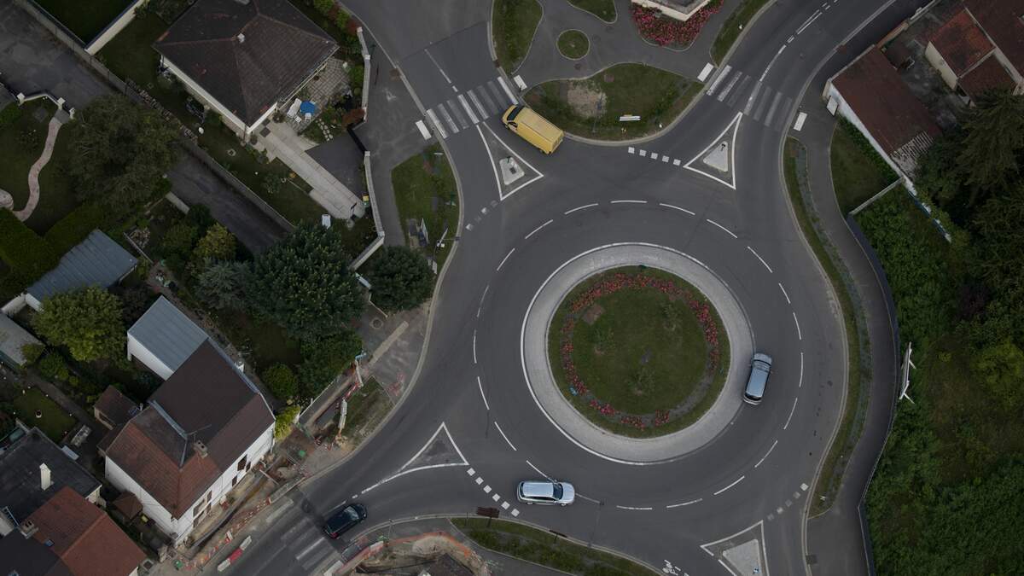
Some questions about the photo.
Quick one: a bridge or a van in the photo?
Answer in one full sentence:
I can see a van in this picture.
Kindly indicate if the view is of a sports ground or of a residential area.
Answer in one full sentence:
The area seen from above is a residential area.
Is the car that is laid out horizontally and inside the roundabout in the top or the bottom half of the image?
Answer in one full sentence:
The car that is laid out horizontally and inside the roundabout sits in the bottom half of the picture.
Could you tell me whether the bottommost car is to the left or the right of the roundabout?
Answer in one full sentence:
Looking at the picture, you'll find the bottommost car to the left of the roundabout.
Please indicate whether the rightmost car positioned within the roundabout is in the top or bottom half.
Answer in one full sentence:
The bottom half of the photo is where the rightmost car positioned within the roundabout is.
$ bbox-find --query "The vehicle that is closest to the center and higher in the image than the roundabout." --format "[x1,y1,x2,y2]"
[499,107,562,158]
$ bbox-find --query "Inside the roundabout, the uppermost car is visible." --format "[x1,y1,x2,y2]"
[742,354,773,408]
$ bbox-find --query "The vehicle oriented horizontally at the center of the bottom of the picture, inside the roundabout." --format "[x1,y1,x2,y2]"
[516,480,575,508]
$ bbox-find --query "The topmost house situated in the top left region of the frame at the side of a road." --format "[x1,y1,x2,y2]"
[153,0,339,145]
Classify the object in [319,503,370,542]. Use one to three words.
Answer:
car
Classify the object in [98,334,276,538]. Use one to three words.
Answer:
house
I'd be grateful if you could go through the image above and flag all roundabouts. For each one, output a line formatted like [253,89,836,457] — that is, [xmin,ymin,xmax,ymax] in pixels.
[432,163,843,551]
